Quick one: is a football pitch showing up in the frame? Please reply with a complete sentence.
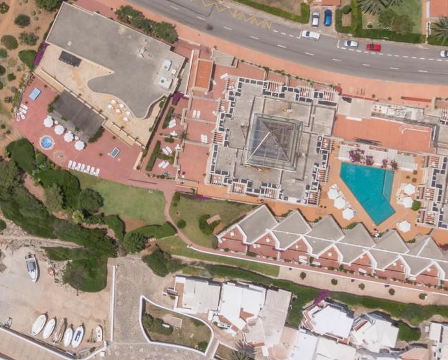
No, the picture doesn't show any football pitch.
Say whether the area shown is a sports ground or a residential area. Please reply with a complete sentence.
The picture captures a residential area.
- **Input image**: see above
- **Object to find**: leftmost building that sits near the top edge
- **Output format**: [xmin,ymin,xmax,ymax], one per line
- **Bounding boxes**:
[47,2,185,117]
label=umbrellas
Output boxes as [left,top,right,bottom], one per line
[55,125,65,135]
[399,221,410,232]
[342,209,354,219]
[403,196,413,208]
[404,184,414,194]
[327,189,339,199]
[64,132,74,142]
[43,117,53,127]
[334,198,345,209]
[75,140,85,150]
